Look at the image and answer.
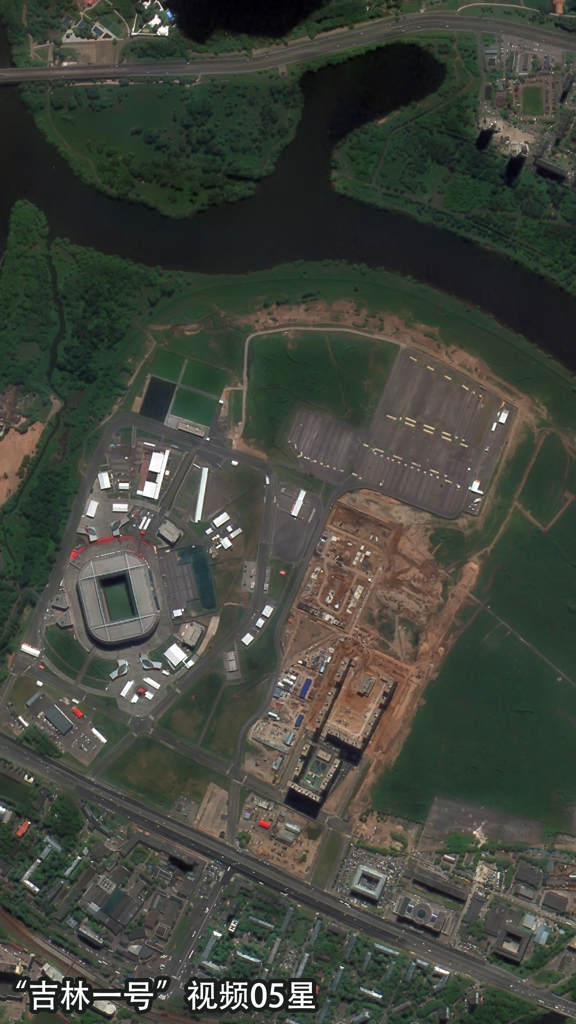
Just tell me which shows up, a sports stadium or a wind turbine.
sports stadium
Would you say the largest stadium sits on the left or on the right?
left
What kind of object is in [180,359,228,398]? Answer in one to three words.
sports field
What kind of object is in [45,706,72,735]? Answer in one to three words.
building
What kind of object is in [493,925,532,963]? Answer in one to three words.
building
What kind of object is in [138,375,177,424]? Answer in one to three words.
sports field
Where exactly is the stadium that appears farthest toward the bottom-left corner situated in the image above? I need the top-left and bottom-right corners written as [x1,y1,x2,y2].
[64,535,172,659]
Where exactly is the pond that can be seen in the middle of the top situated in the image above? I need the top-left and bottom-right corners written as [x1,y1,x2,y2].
[164,0,333,44]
